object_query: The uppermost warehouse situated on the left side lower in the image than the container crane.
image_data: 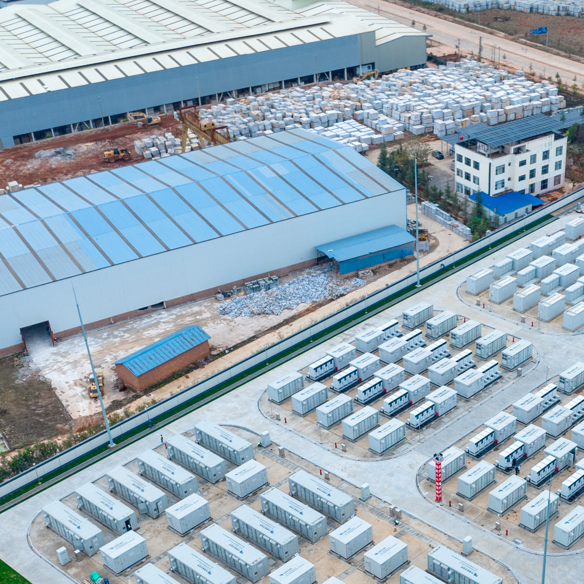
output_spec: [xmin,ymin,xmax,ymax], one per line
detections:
[0,127,409,358]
